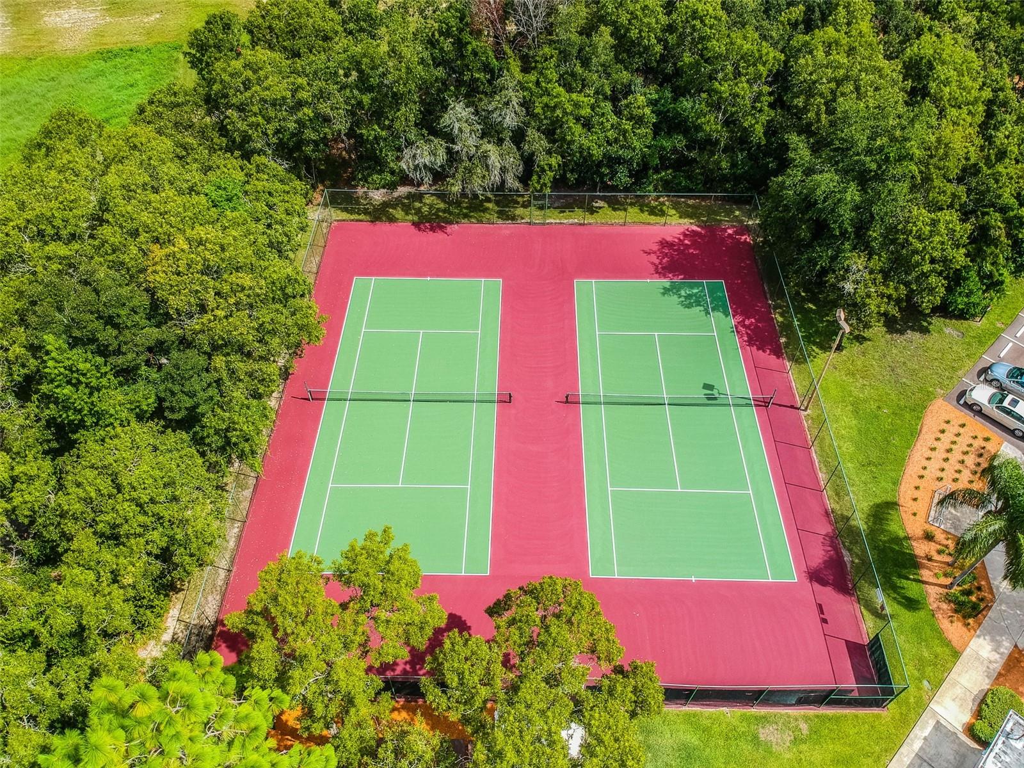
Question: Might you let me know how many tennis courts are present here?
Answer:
two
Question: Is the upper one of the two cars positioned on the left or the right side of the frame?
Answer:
right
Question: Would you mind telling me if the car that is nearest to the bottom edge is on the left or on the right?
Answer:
right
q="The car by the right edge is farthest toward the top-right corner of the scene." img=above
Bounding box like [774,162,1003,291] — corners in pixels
[985,361,1024,399]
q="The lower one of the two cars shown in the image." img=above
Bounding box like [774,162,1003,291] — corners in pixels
[965,385,1024,437]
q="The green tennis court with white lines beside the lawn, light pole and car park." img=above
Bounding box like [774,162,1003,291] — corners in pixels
[538,225,895,713]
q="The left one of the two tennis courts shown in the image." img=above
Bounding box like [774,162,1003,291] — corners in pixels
[206,224,539,705]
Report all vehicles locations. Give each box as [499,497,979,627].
[985,361,1024,399]
[965,385,1024,437]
